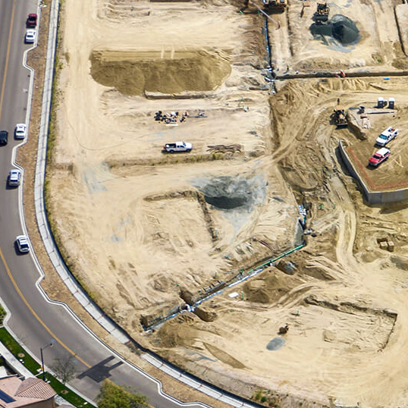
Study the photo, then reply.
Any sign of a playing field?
No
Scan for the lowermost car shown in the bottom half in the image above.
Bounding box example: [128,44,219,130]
[15,237,30,253]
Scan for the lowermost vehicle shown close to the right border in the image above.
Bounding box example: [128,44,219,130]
[367,147,392,165]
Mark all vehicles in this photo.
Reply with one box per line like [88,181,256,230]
[9,170,20,185]
[316,0,327,22]
[375,129,398,145]
[26,31,35,42]
[16,126,25,139]
[15,237,30,253]
[27,15,36,26]
[165,141,192,152]
[367,147,392,165]
[333,102,349,128]
[0,129,8,146]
